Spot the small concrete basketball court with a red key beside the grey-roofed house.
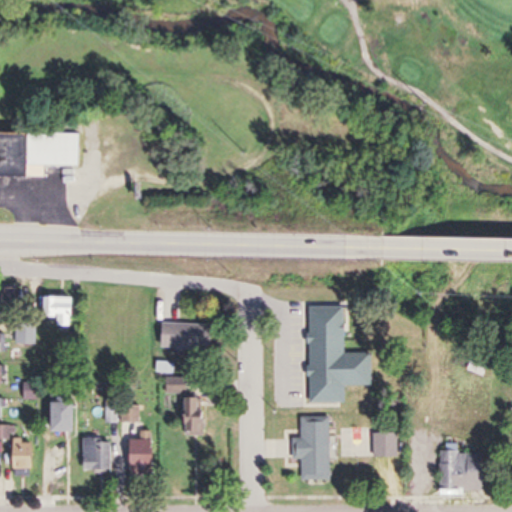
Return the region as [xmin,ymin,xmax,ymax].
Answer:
[340,428,372,458]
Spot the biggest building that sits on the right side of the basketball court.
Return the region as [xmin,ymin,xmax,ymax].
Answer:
[440,442,468,495]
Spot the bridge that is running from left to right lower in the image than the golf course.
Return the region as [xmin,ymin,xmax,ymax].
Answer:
[382,232,512,263]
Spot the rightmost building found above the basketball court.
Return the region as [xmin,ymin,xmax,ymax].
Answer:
[308,306,372,403]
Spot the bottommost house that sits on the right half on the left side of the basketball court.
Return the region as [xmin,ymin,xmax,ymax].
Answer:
[293,416,330,482]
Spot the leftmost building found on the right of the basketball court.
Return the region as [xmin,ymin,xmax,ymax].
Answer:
[372,432,398,458]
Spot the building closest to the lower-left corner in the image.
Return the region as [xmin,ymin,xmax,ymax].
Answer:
[11,438,30,477]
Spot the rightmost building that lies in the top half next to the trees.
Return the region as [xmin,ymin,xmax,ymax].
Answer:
[26,132,79,177]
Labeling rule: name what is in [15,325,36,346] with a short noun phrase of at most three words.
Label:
building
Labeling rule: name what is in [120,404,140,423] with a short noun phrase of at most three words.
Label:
building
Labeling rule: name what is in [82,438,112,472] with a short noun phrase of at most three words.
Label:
house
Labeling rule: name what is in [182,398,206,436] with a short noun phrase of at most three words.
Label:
house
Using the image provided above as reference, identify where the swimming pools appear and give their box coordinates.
[91,406,104,418]
[8,408,19,418]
